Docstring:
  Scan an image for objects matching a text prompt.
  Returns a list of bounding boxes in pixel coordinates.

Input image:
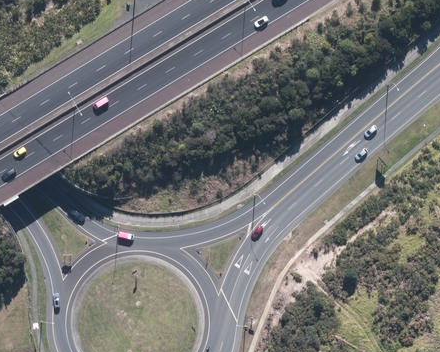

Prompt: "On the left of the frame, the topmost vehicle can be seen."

[94,96,110,108]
